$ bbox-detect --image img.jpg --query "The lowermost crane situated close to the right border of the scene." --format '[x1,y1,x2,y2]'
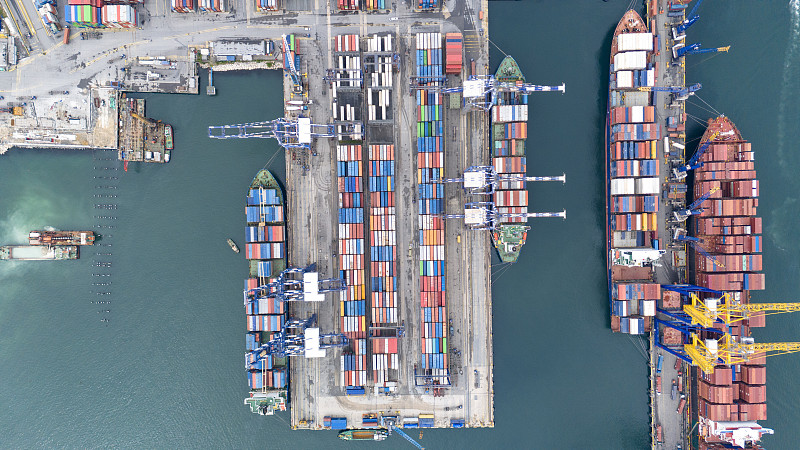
[655,314,800,371]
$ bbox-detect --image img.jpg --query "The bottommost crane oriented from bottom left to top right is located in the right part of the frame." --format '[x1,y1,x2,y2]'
[669,185,722,225]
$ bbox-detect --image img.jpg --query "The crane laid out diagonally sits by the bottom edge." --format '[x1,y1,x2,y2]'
[379,411,427,450]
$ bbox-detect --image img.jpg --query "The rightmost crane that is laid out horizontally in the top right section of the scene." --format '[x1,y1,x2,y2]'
[668,33,733,62]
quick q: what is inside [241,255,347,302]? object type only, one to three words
container crane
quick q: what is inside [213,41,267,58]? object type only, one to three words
building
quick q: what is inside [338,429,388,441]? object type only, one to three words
boat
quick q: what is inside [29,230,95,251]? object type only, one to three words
ship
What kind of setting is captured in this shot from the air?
port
